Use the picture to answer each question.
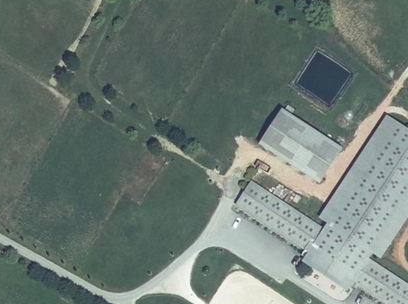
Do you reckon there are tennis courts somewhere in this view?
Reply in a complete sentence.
No, the frame has no tennis court in it.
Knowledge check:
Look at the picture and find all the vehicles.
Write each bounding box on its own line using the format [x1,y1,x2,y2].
[232,218,242,230]
[355,294,362,304]
[292,254,300,265]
